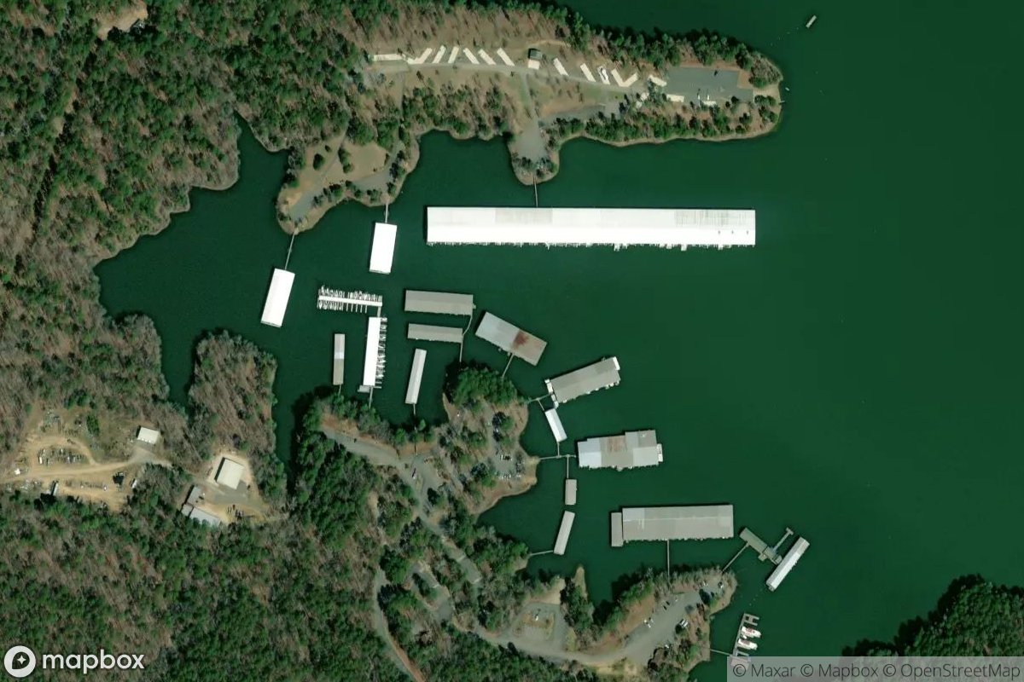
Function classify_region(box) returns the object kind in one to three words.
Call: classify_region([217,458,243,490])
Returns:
barn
